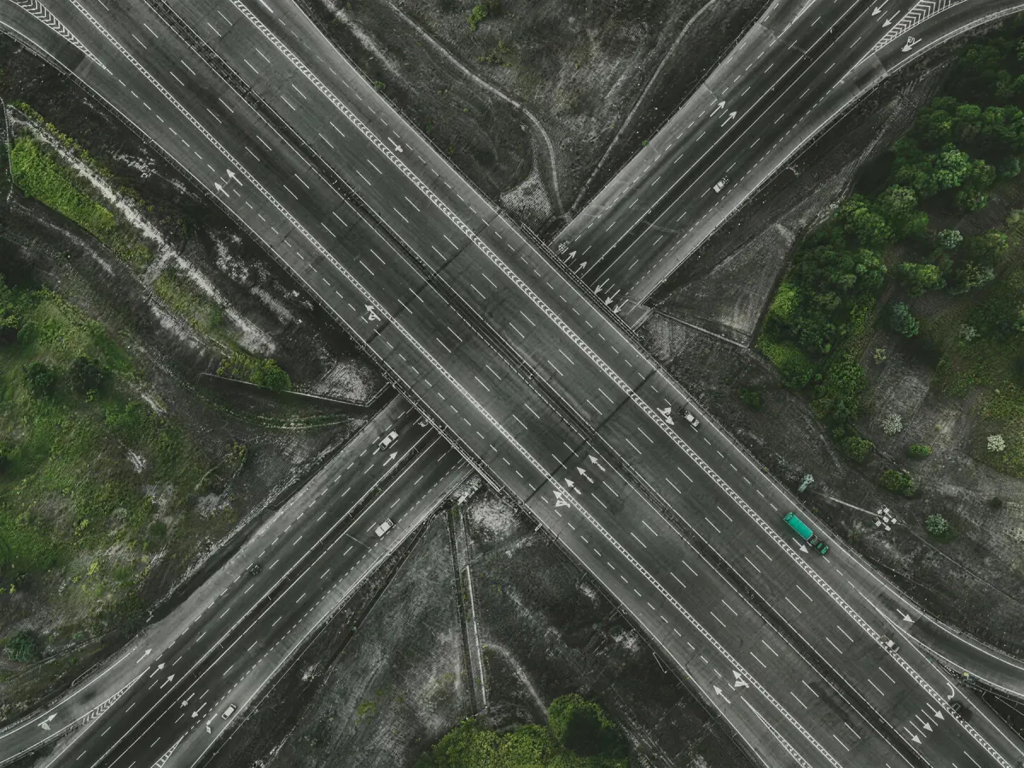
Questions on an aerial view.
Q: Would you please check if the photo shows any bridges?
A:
Yes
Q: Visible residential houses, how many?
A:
0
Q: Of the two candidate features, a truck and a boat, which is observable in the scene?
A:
truck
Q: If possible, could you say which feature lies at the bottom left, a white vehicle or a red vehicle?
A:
white vehicle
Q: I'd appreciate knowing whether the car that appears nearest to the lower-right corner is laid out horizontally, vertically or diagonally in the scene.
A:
diagonally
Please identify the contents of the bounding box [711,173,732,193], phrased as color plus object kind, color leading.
white vehicle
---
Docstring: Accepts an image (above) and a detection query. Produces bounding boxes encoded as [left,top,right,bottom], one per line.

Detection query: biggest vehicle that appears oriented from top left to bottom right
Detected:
[782,510,831,556]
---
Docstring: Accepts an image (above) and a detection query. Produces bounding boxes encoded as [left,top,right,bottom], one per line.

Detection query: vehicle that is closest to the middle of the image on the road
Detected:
[377,430,400,450]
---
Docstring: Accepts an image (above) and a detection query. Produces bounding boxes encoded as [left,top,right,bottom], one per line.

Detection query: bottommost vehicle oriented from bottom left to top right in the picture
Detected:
[219,702,236,720]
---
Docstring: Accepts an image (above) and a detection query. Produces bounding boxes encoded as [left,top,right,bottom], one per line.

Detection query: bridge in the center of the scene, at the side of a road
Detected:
[360,207,661,508]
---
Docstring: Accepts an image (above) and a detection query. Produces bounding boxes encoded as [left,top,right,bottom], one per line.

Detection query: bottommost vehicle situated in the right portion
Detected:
[948,700,969,720]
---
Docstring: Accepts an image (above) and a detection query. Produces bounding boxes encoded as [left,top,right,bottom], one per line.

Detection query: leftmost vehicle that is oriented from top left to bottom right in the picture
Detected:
[684,408,703,427]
